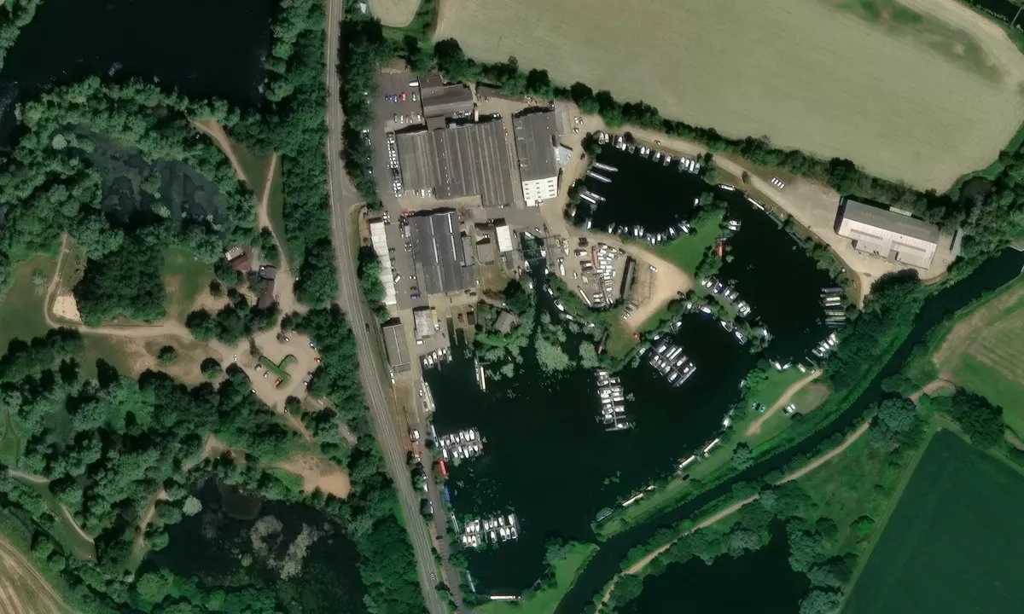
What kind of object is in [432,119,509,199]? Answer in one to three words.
building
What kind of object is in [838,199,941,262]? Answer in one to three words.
barn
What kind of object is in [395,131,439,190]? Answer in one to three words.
building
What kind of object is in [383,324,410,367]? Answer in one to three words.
shed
